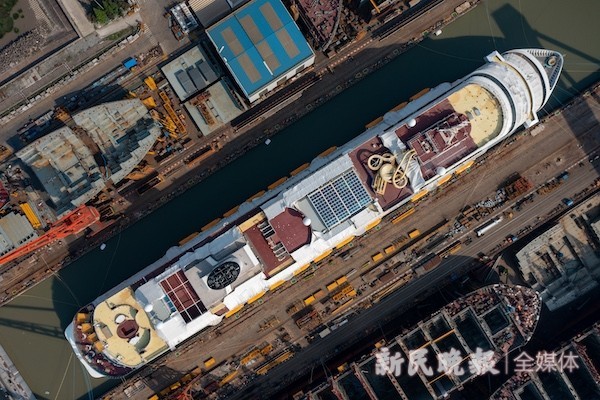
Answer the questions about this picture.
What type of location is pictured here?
port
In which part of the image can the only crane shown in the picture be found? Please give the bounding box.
[0,199,117,264]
